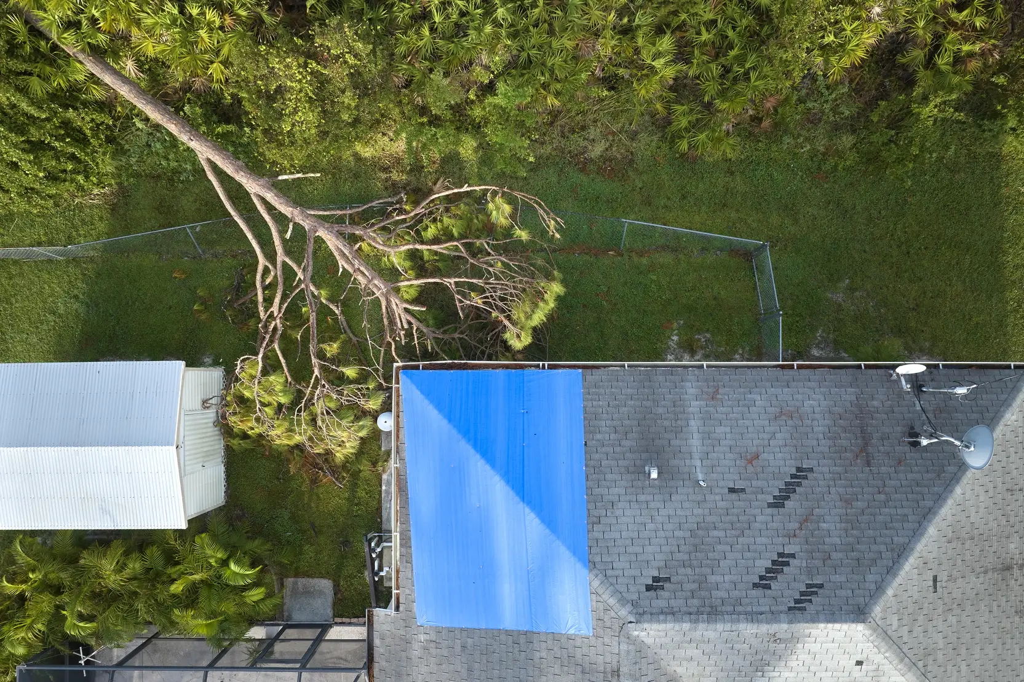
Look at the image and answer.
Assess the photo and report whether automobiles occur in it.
No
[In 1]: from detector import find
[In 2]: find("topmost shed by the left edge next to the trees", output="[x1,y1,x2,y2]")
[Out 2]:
[0,361,227,531]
